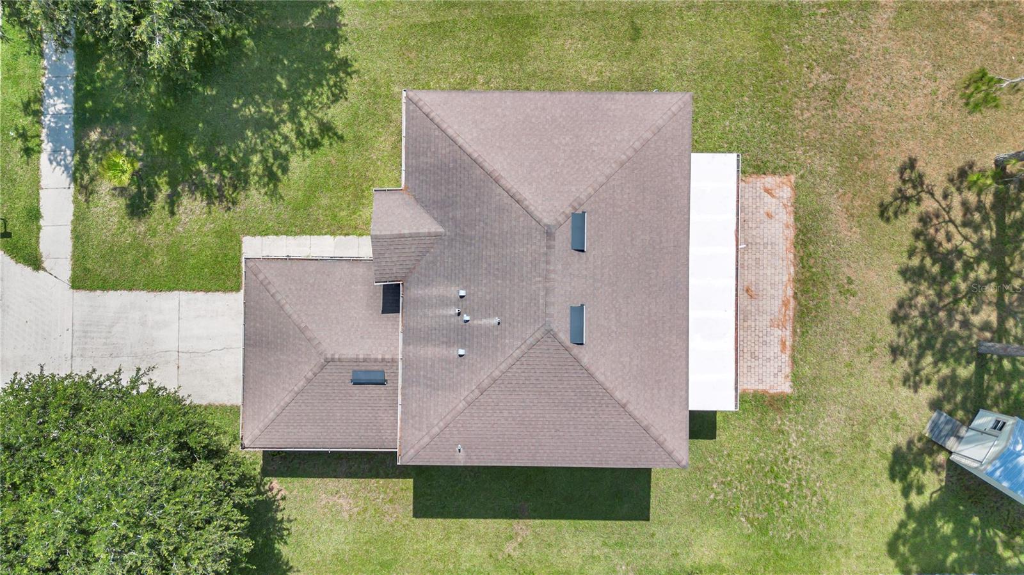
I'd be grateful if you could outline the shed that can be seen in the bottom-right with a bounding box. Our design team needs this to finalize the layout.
[950,408,1024,504]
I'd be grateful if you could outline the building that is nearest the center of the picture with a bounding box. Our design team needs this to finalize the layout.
[241,88,746,468]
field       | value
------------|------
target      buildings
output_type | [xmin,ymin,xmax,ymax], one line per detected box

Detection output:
[241,88,746,468]
[950,408,1024,504]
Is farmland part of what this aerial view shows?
No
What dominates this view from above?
grass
